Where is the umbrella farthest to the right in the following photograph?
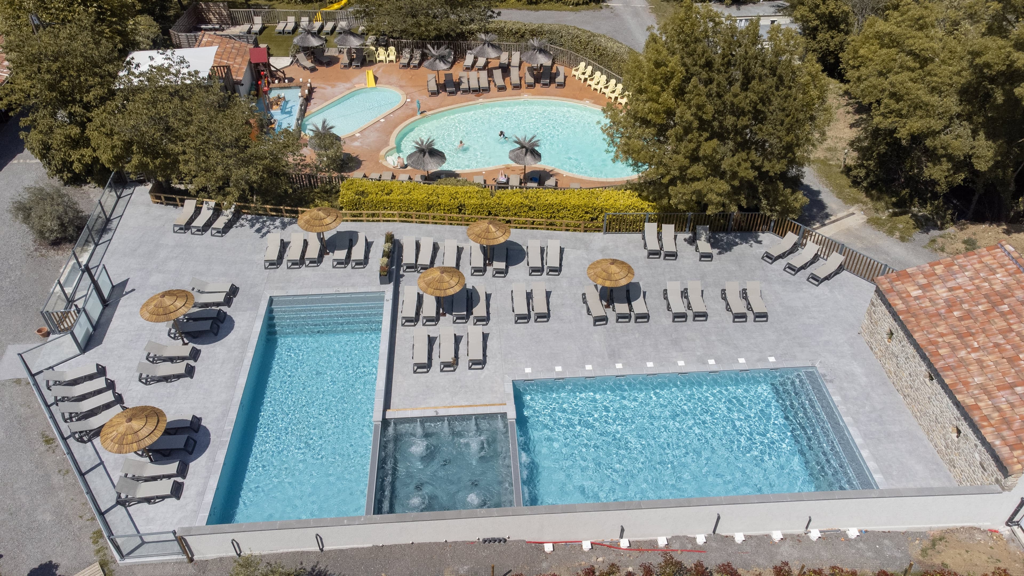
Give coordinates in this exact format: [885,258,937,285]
[586,261,636,310]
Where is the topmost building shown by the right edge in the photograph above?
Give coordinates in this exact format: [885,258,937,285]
[861,237,1024,527]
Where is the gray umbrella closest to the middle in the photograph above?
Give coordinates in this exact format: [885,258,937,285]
[507,136,543,185]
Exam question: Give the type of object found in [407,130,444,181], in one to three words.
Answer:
umbrella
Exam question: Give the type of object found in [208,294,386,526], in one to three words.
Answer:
swimming pool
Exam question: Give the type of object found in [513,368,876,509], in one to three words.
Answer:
swimming pool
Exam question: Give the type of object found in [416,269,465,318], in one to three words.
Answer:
umbrella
